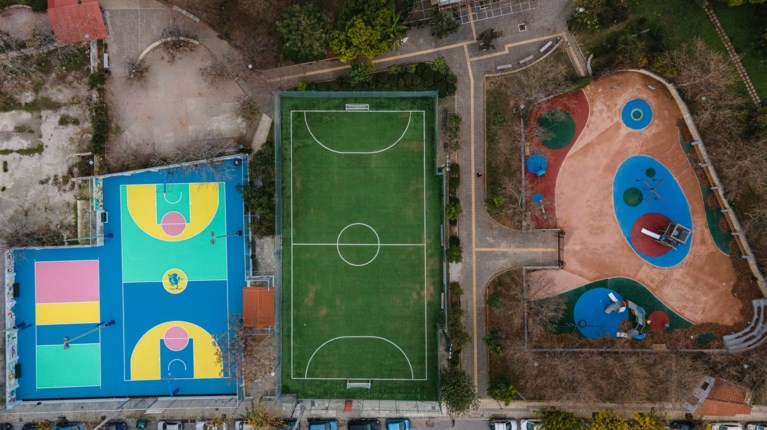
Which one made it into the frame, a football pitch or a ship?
football pitch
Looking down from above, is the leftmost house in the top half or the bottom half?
top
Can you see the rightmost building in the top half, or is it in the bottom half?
bottom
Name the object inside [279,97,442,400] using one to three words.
soccer field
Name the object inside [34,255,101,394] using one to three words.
sports court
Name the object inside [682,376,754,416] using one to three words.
building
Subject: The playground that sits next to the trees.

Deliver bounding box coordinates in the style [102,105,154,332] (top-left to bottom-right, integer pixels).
[527,70,743,345]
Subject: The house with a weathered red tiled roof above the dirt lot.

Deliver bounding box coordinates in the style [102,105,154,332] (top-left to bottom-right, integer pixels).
[47,0,108,45]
